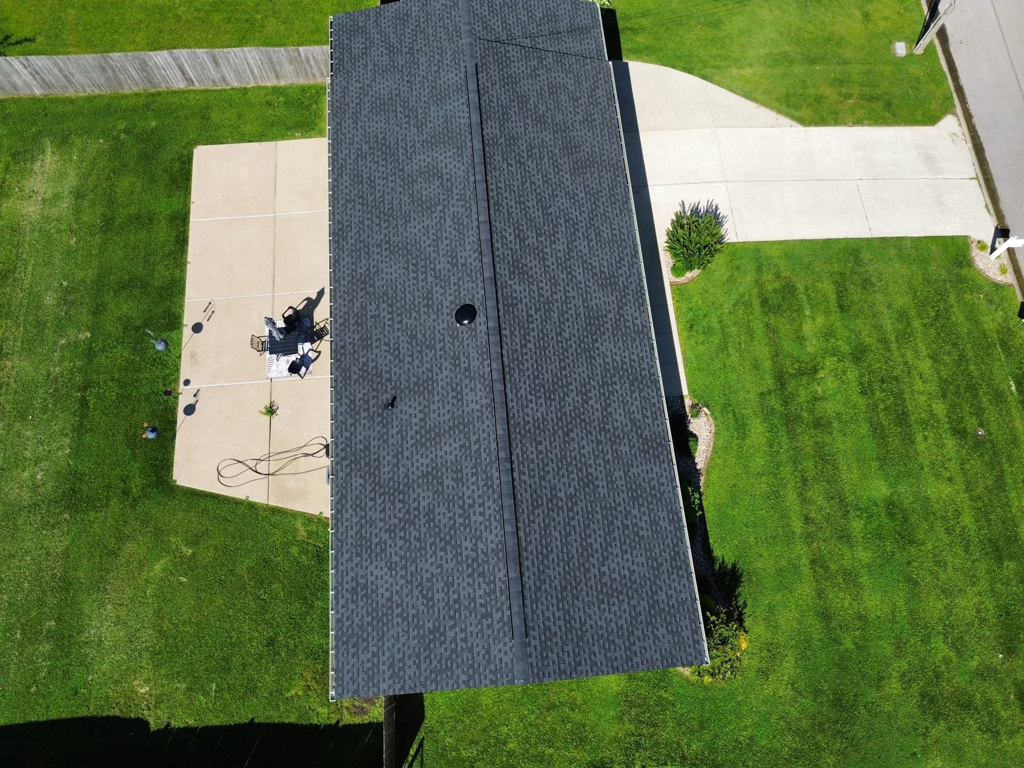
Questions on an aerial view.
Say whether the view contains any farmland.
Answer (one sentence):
No, there's no farmland in this view.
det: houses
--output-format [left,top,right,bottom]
[326,0,711,701]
